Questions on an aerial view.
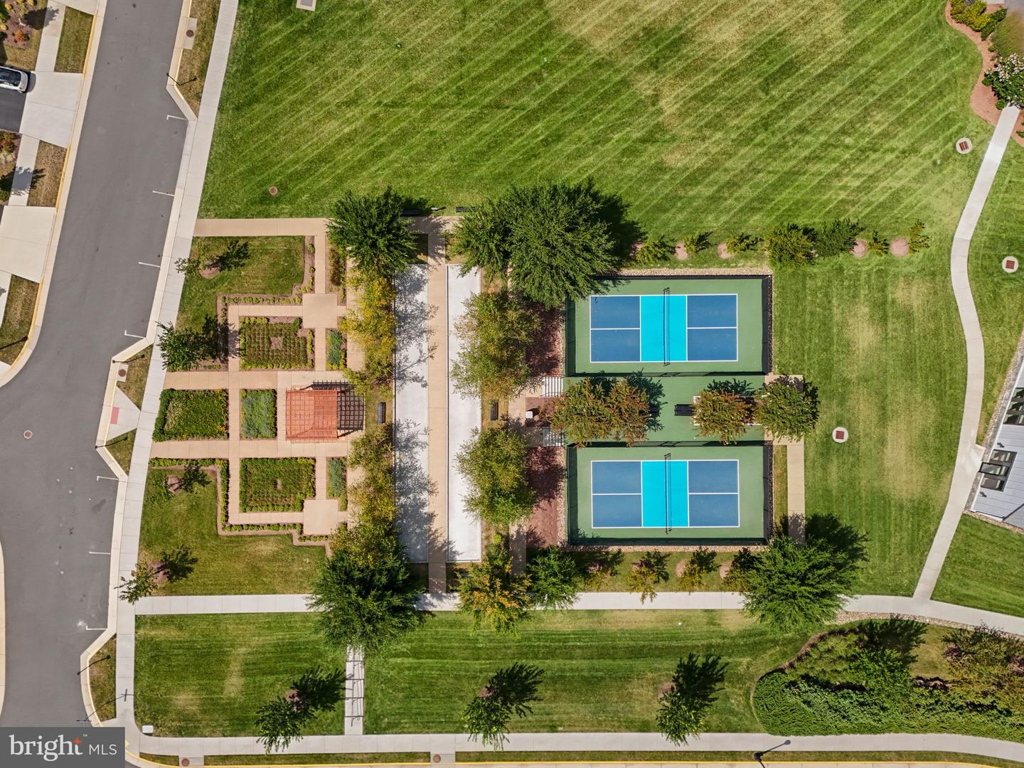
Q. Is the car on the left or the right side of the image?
left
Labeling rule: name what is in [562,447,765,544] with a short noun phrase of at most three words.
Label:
sports court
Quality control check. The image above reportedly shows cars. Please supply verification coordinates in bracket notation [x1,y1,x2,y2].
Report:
[0,60,31,88]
